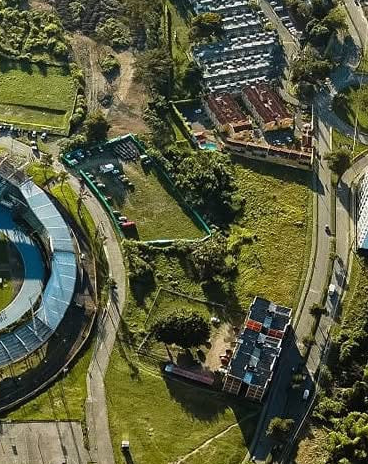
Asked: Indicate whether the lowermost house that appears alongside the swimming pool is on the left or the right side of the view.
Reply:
right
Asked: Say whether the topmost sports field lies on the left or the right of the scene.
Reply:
left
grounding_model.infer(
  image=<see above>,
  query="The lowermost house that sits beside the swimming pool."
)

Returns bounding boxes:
[220,139,312,171]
